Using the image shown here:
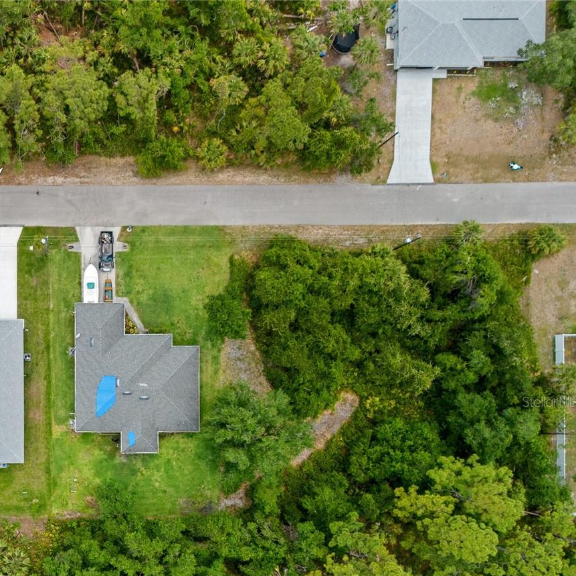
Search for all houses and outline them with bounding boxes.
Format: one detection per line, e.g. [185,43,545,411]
[0,319,25,464]
[74,302,200,454]
[392,0,546,73]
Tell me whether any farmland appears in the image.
No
